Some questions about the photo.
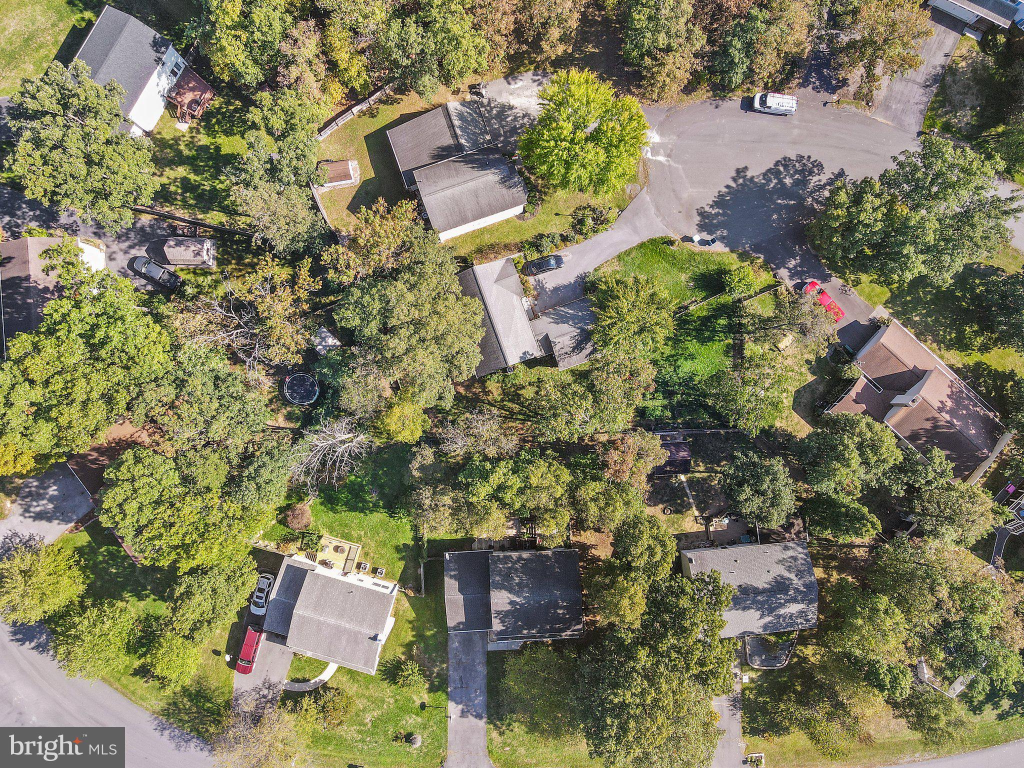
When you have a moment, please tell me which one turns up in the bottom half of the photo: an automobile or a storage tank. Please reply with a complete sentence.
The feature located in the bottom half of the photo is an automobile.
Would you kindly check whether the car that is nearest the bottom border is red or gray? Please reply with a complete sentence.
The color of the car that is nearest the bottom border is red.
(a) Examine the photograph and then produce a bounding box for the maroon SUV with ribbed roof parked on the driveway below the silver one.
[237,628,264,674]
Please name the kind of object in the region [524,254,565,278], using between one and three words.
car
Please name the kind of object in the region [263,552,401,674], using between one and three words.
house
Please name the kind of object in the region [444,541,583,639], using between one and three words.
house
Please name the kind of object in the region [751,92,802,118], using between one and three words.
vehicle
